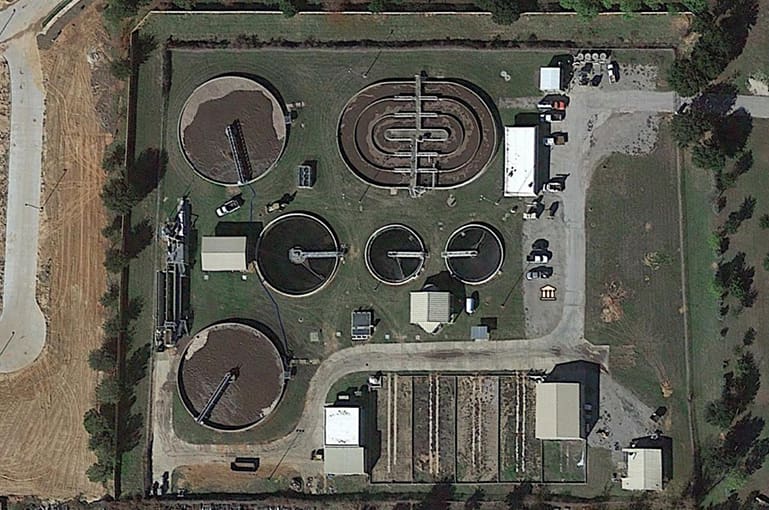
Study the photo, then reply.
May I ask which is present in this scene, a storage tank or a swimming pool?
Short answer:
storage tank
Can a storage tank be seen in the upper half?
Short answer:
Yes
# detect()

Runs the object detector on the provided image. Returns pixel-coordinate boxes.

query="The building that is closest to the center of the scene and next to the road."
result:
[410,288,460,334]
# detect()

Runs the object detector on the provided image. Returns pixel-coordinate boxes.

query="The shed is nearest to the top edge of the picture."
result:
[540,67,564,90]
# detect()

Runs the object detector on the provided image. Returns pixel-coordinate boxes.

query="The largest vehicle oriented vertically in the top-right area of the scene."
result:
[605,61,619,88]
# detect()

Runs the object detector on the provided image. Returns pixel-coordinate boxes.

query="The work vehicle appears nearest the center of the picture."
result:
[263,201,289,216]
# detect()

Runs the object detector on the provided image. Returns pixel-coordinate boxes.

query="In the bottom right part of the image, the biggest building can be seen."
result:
[535,382,585,441]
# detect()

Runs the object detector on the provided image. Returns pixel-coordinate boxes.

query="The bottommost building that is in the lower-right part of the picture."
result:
[622,448,665,491]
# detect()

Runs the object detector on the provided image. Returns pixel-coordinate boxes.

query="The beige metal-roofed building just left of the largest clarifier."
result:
[201,235,252,273]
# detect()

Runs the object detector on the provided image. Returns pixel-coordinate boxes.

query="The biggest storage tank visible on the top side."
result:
[179,77,293,189]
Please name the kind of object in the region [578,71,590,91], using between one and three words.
vehicle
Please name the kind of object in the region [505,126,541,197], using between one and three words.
building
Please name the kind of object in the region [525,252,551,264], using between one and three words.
vehicle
